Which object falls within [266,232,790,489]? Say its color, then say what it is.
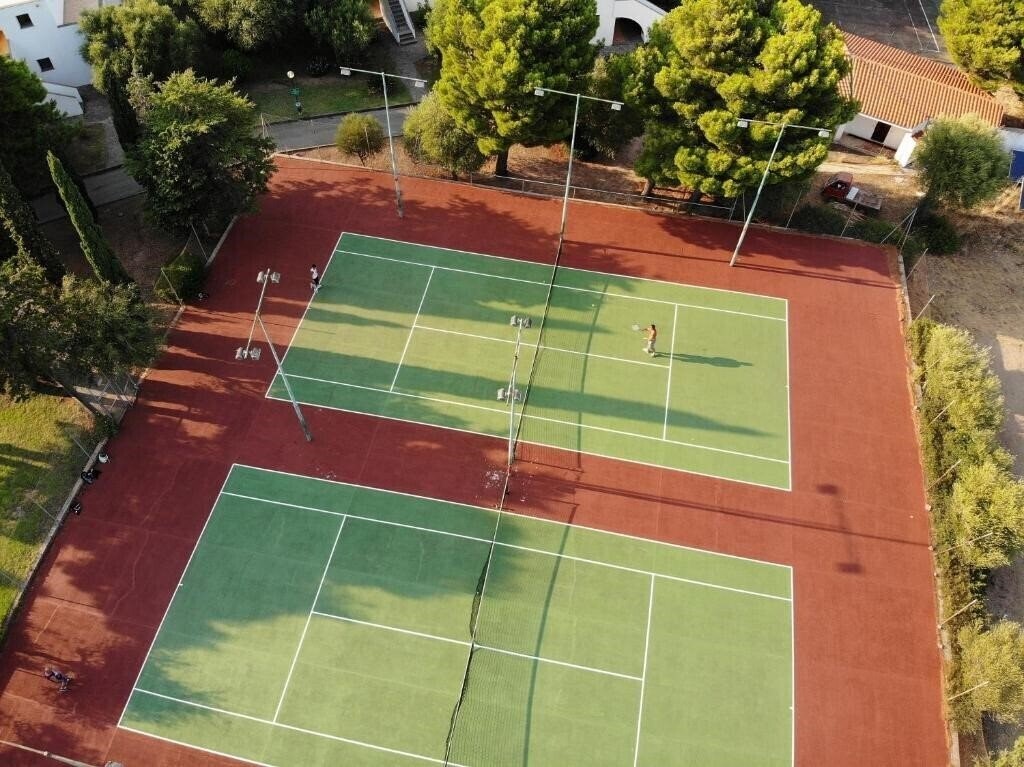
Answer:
green tennis court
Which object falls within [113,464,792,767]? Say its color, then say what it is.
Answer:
green tennis court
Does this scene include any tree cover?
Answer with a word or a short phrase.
Yes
